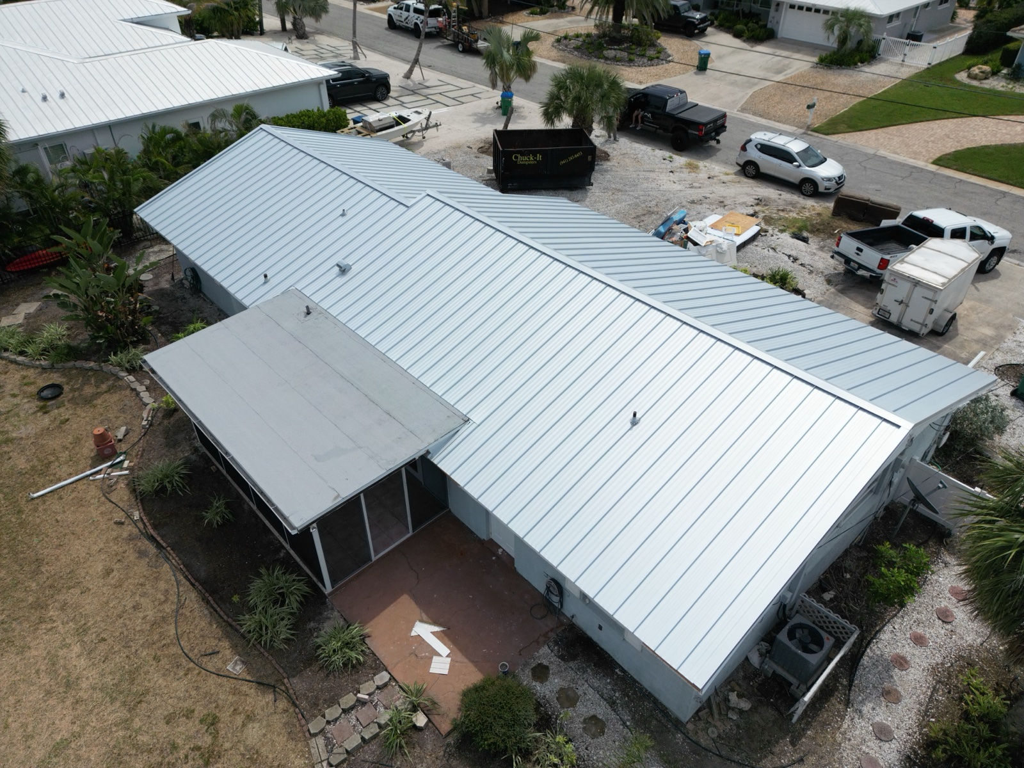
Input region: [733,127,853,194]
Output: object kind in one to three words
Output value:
car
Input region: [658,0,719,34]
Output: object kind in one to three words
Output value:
car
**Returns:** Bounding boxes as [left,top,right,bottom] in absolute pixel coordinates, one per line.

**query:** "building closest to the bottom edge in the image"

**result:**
[135,124,995,722]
